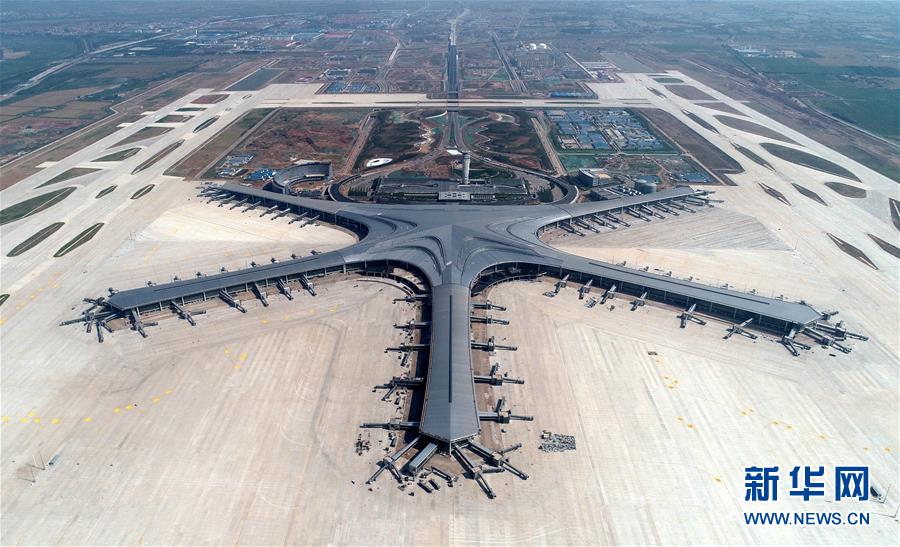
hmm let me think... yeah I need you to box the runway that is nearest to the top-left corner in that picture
[0,89,213,207]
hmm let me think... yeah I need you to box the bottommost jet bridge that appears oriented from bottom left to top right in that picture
[366,433,423,485]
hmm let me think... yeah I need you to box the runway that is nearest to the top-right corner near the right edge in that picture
[667,70,900,198]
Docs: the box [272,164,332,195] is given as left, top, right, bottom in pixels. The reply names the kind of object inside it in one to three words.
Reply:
building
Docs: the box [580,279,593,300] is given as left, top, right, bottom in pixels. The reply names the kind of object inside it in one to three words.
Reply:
jet bridge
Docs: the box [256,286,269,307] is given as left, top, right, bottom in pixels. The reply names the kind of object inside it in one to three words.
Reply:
jet bridge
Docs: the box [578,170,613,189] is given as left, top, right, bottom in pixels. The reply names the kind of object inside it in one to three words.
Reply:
building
